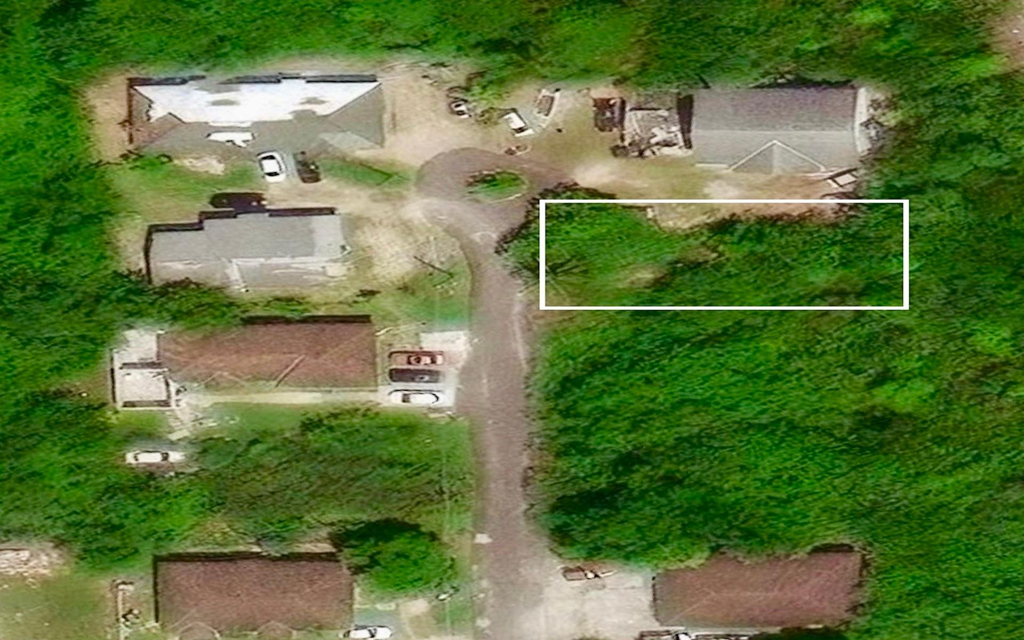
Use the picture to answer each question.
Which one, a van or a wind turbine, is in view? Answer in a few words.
van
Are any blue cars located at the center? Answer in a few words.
No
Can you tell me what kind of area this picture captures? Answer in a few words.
residential area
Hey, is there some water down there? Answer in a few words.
No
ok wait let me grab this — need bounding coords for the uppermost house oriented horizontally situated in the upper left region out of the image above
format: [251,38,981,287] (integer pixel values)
[132,80,387,152]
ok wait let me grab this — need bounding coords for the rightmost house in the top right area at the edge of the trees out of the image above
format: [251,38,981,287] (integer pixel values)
[692,86,860,173]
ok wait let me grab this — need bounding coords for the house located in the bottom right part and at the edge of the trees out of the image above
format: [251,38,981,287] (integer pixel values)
[655,552,859,631]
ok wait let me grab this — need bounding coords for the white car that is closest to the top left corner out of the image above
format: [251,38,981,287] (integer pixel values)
[258,150,286,185]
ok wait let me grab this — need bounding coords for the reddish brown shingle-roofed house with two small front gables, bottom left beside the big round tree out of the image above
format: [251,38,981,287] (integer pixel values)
[157,557,355,640]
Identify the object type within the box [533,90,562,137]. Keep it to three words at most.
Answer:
trailer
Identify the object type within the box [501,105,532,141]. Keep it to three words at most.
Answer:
van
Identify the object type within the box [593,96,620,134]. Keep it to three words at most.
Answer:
car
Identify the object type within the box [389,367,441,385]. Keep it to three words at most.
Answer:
vehicle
